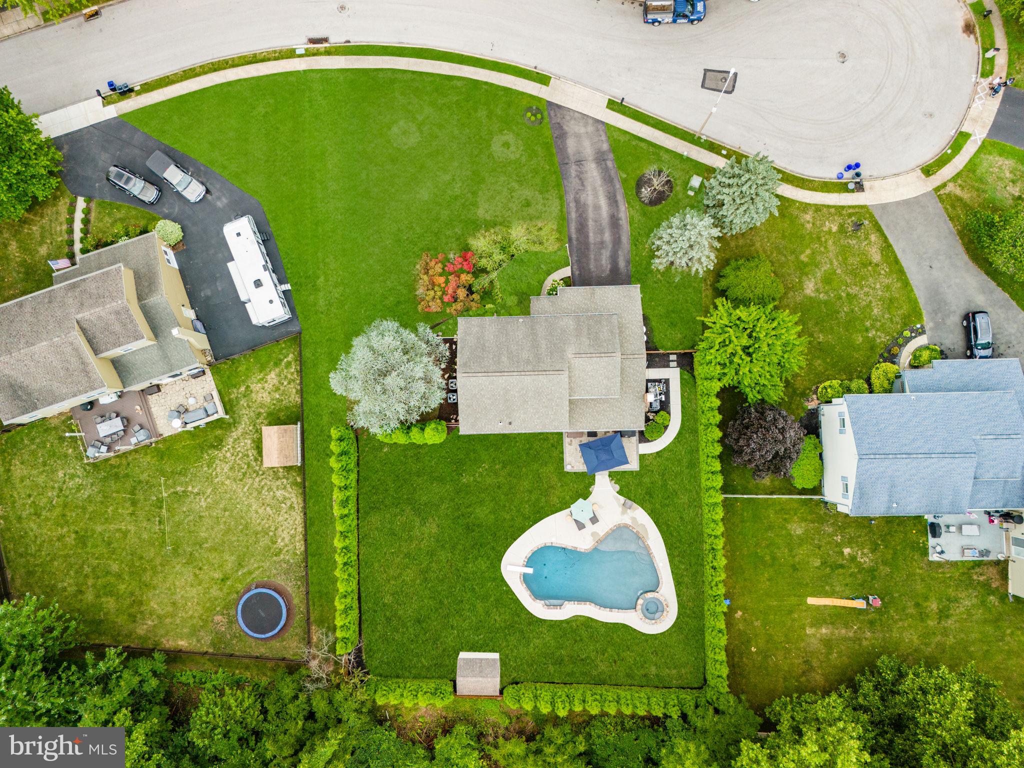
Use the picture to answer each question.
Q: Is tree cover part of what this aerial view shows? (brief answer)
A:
Yes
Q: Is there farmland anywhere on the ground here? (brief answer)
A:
No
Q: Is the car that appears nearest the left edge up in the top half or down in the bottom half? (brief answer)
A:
top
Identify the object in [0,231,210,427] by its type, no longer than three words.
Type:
house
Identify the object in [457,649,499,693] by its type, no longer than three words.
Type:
shed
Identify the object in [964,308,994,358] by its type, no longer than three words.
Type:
car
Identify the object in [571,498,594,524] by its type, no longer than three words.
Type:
umbrella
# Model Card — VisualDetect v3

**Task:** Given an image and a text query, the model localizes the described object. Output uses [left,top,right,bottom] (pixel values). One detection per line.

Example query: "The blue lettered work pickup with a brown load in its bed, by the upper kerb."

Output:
[645,0,708,26]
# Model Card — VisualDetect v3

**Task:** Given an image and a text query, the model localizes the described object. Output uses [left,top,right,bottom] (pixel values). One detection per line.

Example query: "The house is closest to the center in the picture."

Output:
[457,283,655,436]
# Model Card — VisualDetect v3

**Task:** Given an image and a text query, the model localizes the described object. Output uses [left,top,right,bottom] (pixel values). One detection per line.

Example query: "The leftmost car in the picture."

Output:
[108,165,164,205]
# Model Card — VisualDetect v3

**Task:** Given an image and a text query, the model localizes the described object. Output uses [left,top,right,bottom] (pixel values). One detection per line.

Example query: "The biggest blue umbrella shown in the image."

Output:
[578,433,629,475]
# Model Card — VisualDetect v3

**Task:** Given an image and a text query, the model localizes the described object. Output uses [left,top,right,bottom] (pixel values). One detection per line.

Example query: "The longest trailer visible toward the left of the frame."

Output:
[226,216,296,326]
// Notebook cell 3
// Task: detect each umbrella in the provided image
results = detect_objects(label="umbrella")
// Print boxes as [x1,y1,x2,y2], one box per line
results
[571,498,594,524]
[578,433,629,475]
